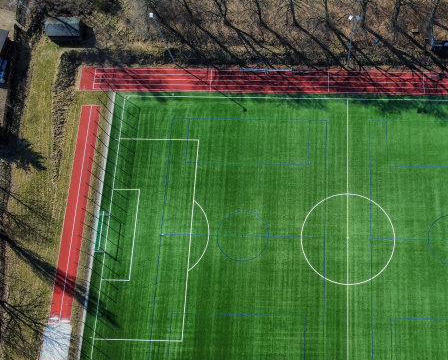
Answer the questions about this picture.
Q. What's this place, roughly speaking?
sports ground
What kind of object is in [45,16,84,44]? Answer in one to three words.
shed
